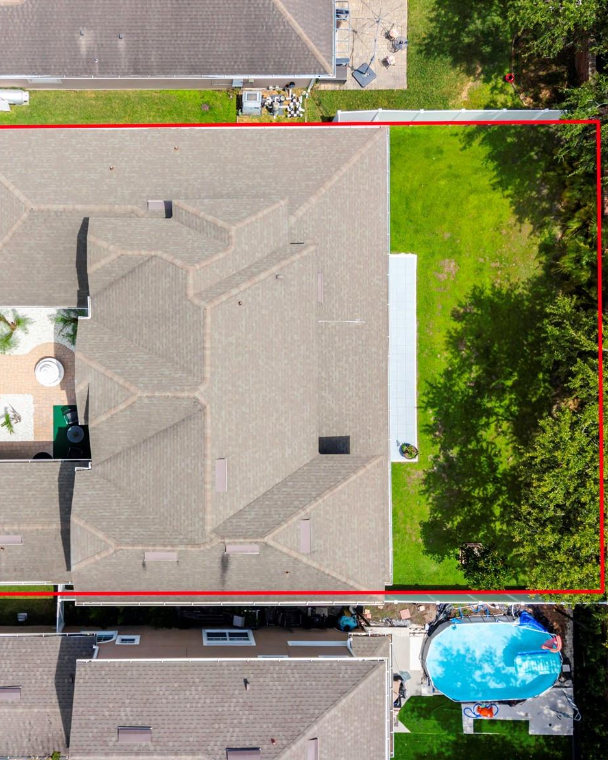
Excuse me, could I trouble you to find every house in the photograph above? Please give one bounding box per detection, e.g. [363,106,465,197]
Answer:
[0,0,336,93]
[0,123,396,606]
[0,625,396,760]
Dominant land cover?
buildings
